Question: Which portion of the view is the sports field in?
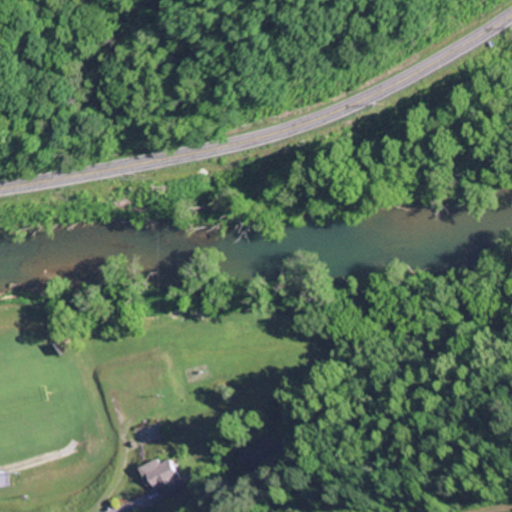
bottom left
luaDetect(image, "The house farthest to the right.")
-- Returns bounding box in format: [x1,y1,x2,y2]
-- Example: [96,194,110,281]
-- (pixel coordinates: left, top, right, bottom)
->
[138,460,179,488]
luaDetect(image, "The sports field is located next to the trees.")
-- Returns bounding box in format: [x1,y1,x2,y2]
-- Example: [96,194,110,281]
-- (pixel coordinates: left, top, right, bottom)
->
[0,331,90,465]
